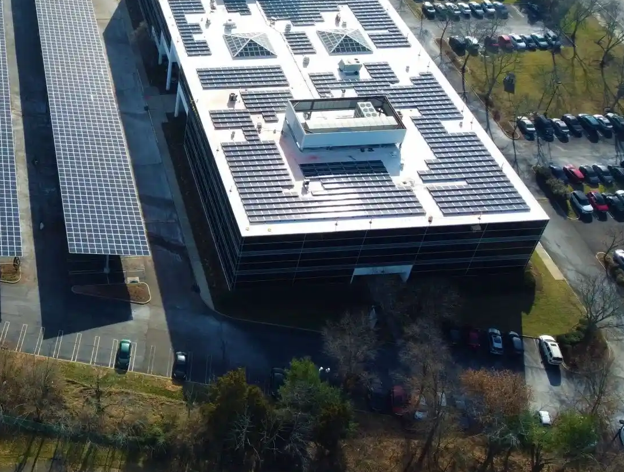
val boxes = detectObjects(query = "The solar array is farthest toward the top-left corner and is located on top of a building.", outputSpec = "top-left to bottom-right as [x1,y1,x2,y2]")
[168,0,210,57]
